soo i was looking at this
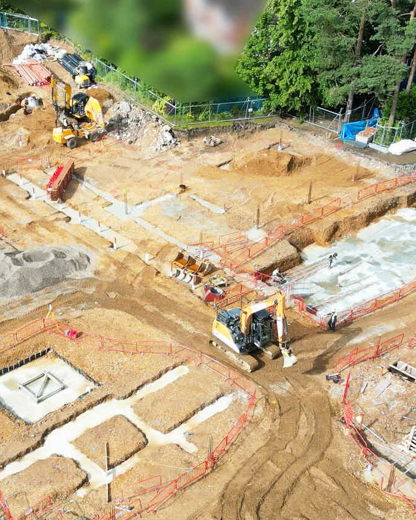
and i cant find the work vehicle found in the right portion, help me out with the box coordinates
[201,288,303,377]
